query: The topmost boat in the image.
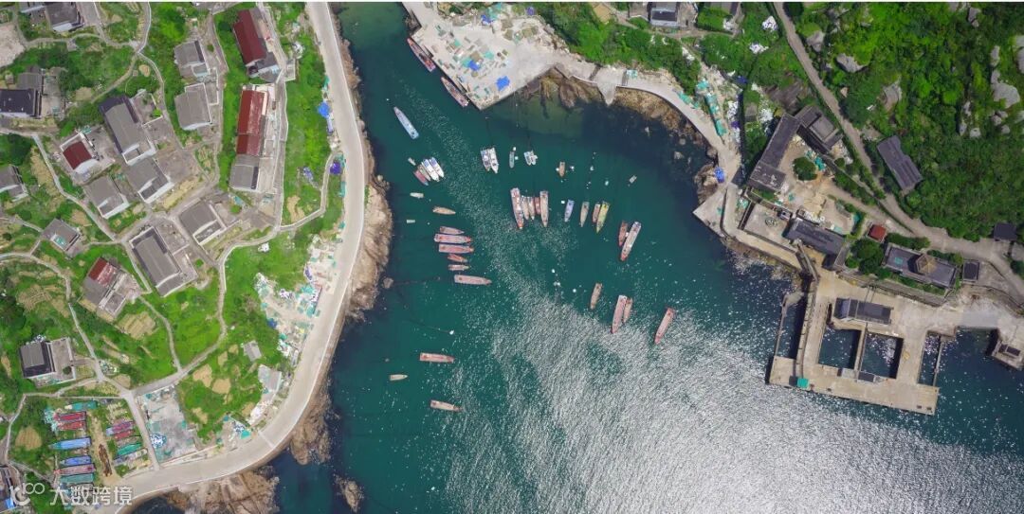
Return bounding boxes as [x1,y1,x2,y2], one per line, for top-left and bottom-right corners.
[407,37,436,73]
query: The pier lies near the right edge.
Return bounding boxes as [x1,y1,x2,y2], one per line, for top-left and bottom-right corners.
[767,248,1024,415]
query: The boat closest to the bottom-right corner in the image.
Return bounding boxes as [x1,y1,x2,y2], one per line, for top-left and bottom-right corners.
[656,307,675,344]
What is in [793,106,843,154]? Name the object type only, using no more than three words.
house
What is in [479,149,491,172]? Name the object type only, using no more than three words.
boat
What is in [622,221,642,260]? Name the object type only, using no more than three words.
boat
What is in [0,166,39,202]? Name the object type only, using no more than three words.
house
